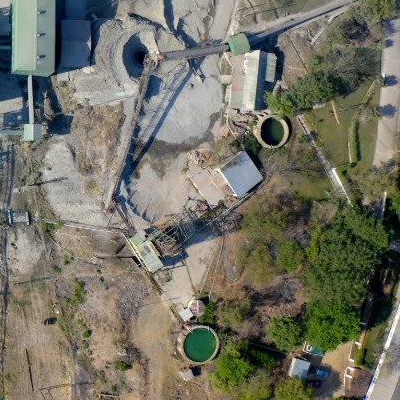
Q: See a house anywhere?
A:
Yes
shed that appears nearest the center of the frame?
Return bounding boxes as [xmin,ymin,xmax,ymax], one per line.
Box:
[215,152,263,199]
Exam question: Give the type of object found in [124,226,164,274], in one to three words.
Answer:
house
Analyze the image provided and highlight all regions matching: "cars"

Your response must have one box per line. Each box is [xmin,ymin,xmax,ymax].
[309,379,324,388]
[315,369,331,378]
